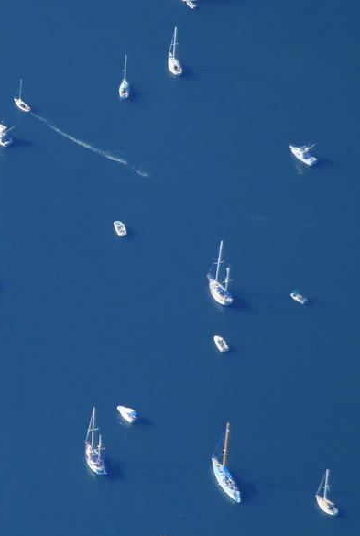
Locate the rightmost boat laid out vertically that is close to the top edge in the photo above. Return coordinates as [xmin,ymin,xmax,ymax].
[168,26,183,74]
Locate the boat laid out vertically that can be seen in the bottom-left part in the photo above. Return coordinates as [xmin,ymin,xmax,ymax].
[85,408,107,476]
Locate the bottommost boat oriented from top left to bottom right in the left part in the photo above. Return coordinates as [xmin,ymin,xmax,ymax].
[117,406,136,425]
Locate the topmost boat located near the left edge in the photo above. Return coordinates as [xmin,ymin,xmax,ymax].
[14,81,31,112]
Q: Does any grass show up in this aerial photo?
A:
No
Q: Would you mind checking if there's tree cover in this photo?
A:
No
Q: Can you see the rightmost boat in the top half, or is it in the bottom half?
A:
bottom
